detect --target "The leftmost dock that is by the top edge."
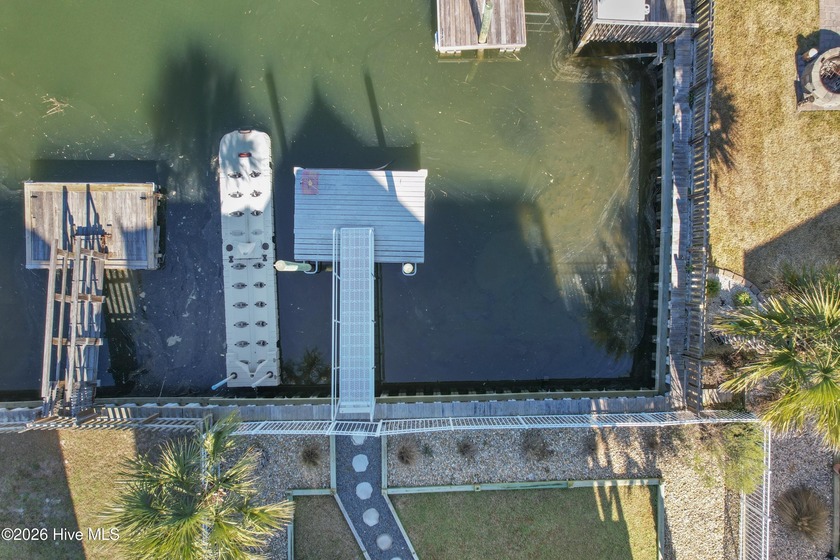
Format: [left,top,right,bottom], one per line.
[436,0,526,58]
